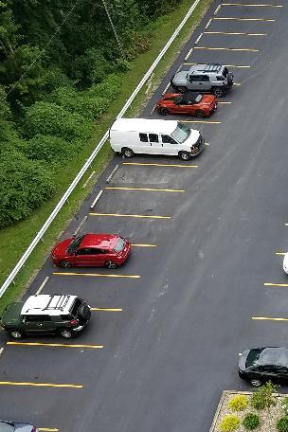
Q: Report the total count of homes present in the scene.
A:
0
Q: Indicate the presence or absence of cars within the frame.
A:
Yes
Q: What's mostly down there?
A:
paved ground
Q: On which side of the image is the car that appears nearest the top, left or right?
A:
right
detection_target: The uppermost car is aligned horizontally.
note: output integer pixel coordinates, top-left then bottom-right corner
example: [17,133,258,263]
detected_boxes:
[169,63,236,96]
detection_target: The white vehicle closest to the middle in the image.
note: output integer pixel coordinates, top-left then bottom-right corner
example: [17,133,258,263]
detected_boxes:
[105,118,205,160]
